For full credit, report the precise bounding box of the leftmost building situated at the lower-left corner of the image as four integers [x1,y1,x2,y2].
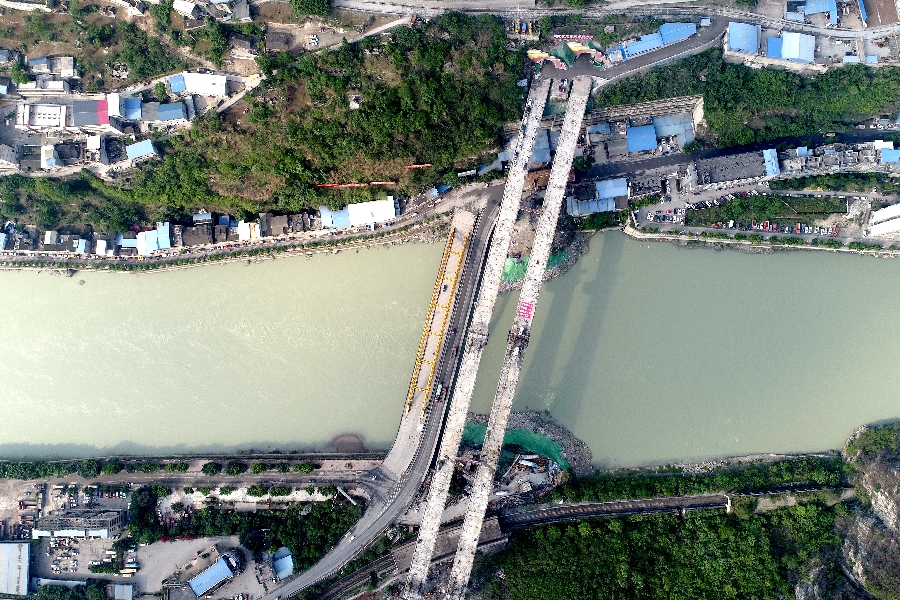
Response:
[0,538,38,595]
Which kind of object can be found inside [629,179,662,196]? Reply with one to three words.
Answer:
shed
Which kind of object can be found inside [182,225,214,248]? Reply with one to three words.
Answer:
house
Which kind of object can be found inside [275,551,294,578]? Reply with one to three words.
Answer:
building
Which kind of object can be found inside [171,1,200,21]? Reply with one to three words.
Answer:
barn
